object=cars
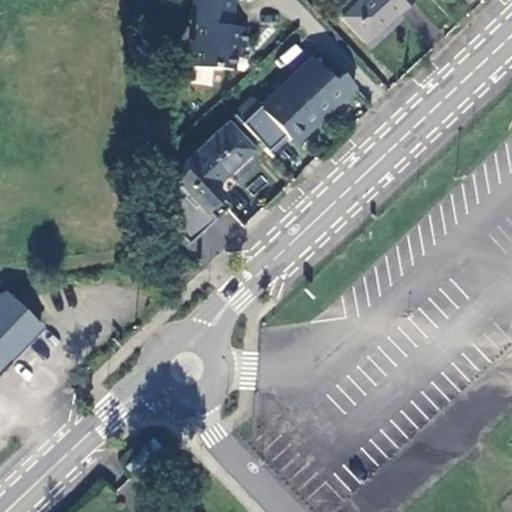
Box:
[260,12,280,22]
[30,340,50,361]
[14,362,34,382]
[52,294,64,314]
[221,278,242,298]
[64,288,78,310]
[42,330,60,350]
[349,460,368,480]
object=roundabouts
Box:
[95,271,259,458]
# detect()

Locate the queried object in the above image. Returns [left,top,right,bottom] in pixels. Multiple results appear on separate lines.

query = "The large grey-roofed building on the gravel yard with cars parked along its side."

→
[0,291,46,374]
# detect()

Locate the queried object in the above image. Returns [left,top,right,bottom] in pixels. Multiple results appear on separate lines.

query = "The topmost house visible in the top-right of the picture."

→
[341,0,416,48]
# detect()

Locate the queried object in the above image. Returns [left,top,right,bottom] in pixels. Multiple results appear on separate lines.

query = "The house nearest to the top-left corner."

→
[192,0,248,67]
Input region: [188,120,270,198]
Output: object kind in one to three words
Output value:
house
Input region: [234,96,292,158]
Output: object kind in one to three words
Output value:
house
